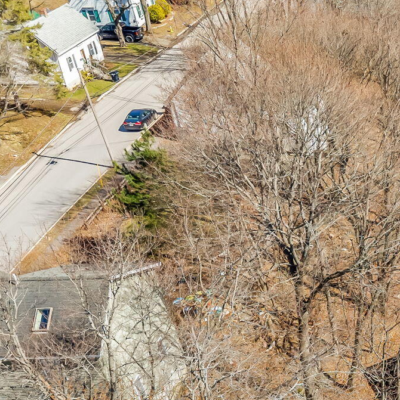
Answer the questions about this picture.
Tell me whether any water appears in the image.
No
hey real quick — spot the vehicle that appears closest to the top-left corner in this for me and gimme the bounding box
[101,24,147,41]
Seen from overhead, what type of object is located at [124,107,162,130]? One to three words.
car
